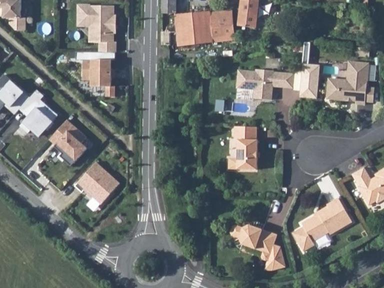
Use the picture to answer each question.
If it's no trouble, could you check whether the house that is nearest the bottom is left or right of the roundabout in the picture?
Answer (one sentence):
Relative to the roundabout, the house that is nearest the bottom is on the right.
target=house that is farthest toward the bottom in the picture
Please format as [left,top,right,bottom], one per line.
[232,224,286,272]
